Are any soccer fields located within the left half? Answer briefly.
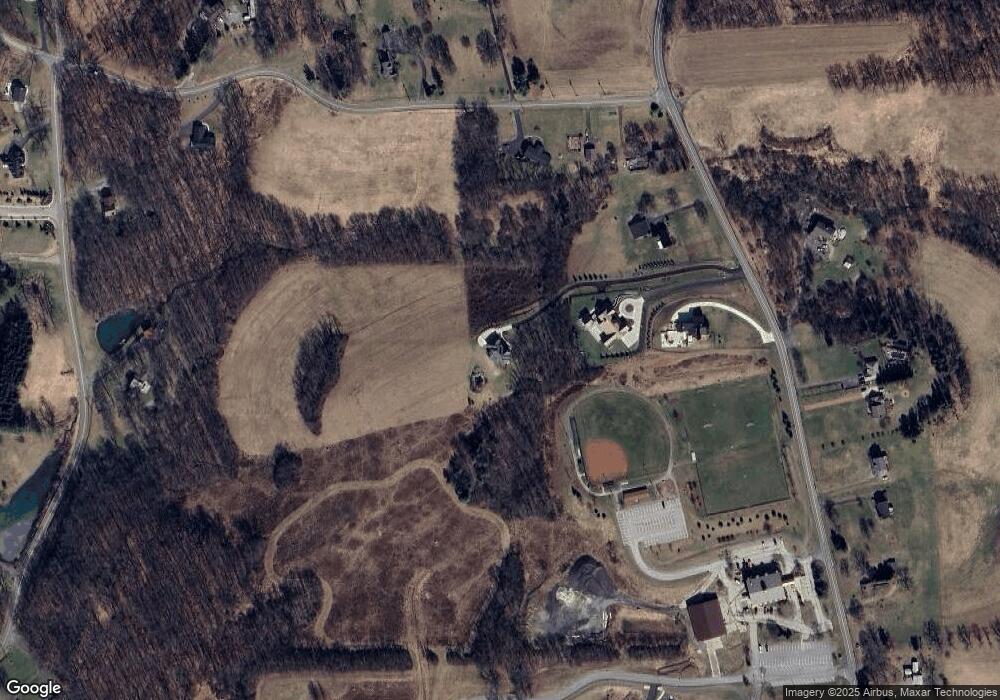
No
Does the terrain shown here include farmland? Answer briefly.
Yes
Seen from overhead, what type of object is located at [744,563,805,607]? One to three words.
building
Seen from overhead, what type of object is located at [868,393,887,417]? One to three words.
house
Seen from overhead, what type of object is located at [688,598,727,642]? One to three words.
building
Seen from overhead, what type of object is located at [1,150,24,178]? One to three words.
house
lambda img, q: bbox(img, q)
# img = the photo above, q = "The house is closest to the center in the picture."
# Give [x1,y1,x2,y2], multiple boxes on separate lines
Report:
[483,334,512,364]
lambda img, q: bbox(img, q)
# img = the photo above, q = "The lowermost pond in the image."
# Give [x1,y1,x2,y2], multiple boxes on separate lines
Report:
[0,449,62,560]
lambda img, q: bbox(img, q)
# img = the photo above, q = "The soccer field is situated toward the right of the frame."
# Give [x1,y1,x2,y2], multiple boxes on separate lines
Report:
[681,376,790,514]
